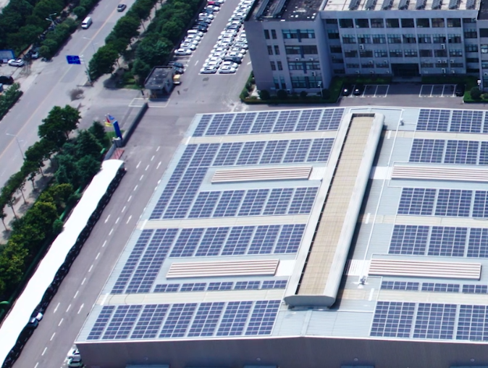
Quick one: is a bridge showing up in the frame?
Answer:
No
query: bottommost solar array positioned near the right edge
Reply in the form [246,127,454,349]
[370,302,488,341]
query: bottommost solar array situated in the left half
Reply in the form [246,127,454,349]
[87,300,282,340]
